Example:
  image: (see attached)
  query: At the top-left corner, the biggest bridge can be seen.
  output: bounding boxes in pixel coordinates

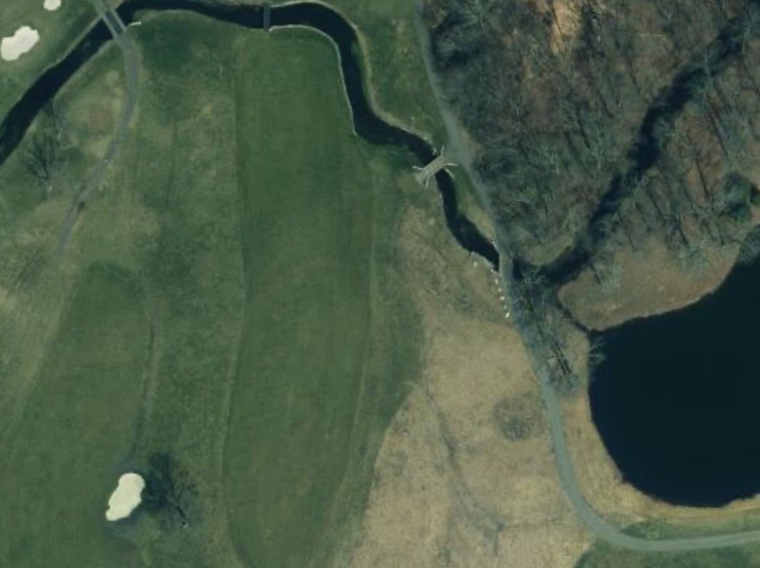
[97,2,129,44]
